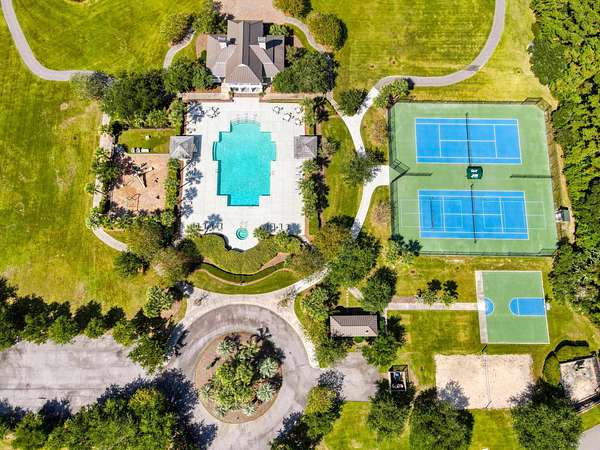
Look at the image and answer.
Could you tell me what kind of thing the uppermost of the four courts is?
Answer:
tennis court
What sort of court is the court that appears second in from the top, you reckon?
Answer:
tennis court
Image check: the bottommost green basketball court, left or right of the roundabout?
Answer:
on the right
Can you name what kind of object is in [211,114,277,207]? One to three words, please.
swimming pool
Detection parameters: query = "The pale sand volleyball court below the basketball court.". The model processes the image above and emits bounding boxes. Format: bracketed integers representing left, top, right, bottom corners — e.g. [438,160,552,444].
[436,353,533,410]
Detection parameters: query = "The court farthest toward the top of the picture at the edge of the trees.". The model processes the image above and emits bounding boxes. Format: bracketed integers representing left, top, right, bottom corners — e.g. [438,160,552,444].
[390,103,551,178]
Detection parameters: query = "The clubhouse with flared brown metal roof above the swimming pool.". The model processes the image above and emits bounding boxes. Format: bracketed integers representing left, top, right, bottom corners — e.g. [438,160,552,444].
[206,19,284,98]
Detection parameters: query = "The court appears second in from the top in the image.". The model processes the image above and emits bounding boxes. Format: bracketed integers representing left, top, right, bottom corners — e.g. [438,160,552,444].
[391,178,557,255]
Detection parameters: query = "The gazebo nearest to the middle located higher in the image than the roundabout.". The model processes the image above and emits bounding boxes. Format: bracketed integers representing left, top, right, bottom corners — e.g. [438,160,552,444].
[293,136,318,161]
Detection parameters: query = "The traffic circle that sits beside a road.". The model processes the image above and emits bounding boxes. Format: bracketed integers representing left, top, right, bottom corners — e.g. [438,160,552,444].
[166,302,312,450]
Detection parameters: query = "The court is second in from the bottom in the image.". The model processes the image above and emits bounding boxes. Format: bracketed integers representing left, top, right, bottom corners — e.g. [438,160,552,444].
[476,271,550,344]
